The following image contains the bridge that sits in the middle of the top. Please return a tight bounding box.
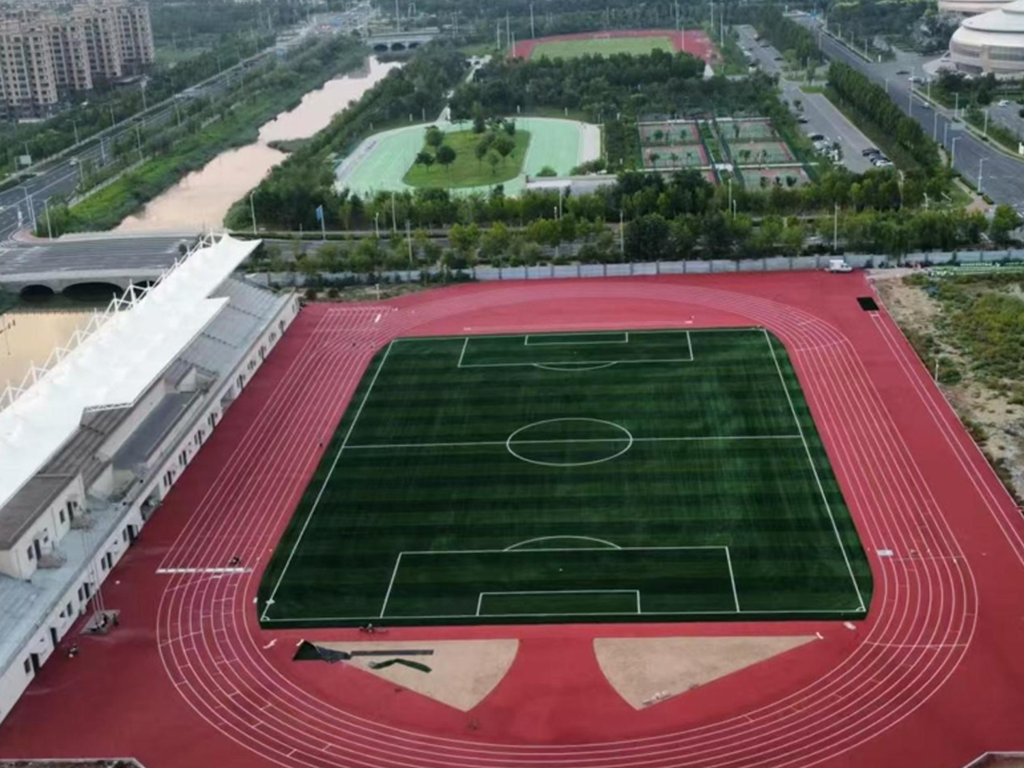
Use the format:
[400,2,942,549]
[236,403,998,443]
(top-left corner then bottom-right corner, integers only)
[358,30,450,55]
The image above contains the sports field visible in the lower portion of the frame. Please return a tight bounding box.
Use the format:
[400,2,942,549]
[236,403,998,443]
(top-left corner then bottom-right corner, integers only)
[256,327,873,628]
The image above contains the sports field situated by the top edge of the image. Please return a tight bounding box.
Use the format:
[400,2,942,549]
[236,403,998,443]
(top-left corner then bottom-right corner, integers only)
[527,36,675,66]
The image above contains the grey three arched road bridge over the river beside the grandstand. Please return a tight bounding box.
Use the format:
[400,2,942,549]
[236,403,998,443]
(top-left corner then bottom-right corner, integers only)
[0,225,293,298]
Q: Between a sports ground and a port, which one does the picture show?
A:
sports ground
